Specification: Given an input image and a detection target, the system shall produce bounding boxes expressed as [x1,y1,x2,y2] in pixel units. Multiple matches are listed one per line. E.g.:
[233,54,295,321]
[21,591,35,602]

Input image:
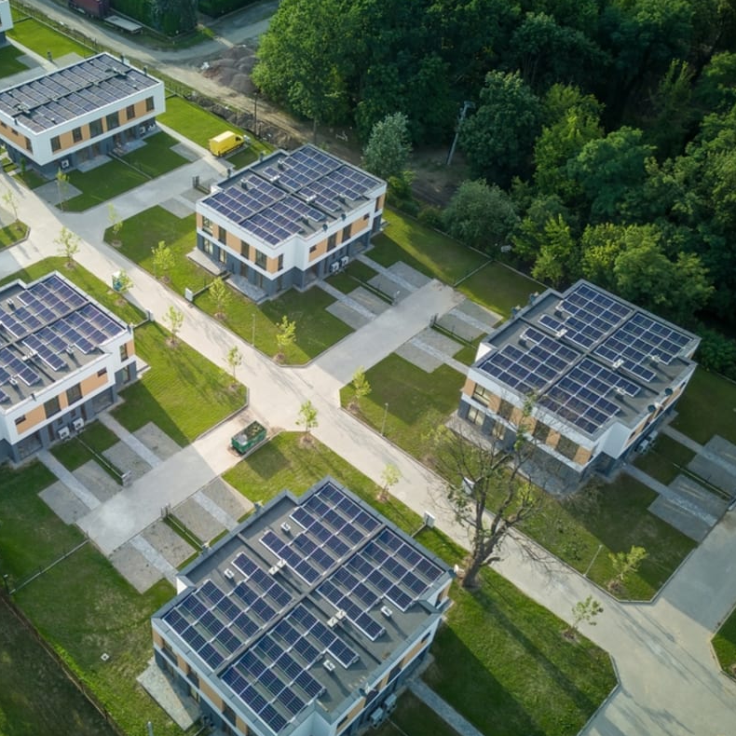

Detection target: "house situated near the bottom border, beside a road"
[132,477,463,736]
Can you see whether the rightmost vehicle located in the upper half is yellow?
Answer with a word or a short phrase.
Yes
